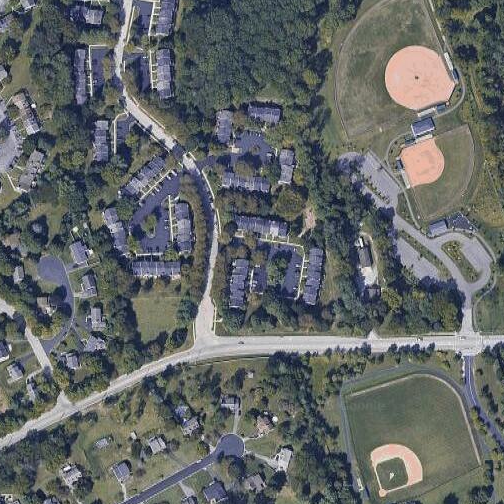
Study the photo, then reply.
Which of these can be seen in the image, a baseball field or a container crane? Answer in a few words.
baseball field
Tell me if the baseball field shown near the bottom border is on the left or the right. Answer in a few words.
right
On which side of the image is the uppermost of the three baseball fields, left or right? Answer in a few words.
right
